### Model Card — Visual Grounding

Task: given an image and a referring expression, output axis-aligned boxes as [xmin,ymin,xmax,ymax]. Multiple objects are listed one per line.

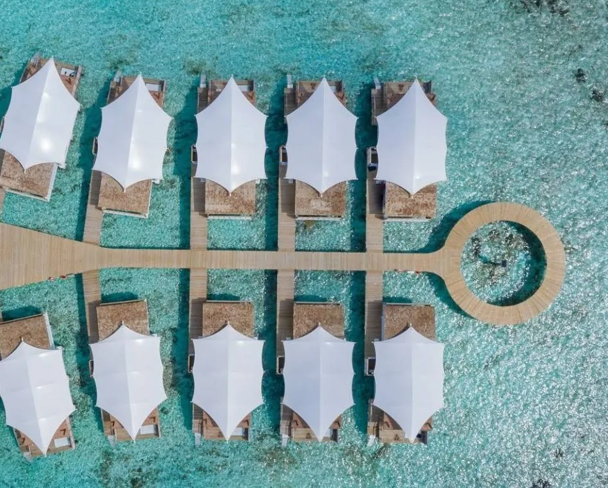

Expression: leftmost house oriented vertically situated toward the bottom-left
[0,309,78,459]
